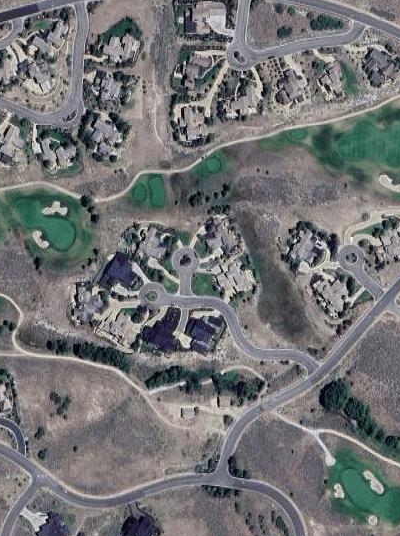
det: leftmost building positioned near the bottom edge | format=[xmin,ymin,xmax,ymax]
[34,513,70,536]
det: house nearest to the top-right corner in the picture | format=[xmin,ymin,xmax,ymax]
[365,48,397,87]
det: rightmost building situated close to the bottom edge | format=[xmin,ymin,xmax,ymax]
[122,515,158,536]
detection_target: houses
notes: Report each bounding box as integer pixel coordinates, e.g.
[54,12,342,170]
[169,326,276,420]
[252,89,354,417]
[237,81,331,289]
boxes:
[185,315,223,353]
[275,69,307,105]
[313,277,349,312]
[292,229,320,262]
[320,62,348,97]
[213,260,251,301]
[98,253,138,290]
[102,312,138,350]
[182,0,225,32]
[180,107,210,143]
[365,48,397,87]
[41,20,68,44]
[377,224,400,259]
[0,60,12,80]
[95,70,121,103]
[76,288,105,322]
[41,140,79,169]
[0,378,12,411]
[89,119,123,156]
[122,515,158,536]
[34,513,70,536]
[180,52,211,91]
[31,36,54,58]
[221,81,260,117]
[140,229,167,262]
[144,309,180,350]
[17,58,53,92]
[0,125,25,165]
[104,34,141,66]
[202,219,237,254]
